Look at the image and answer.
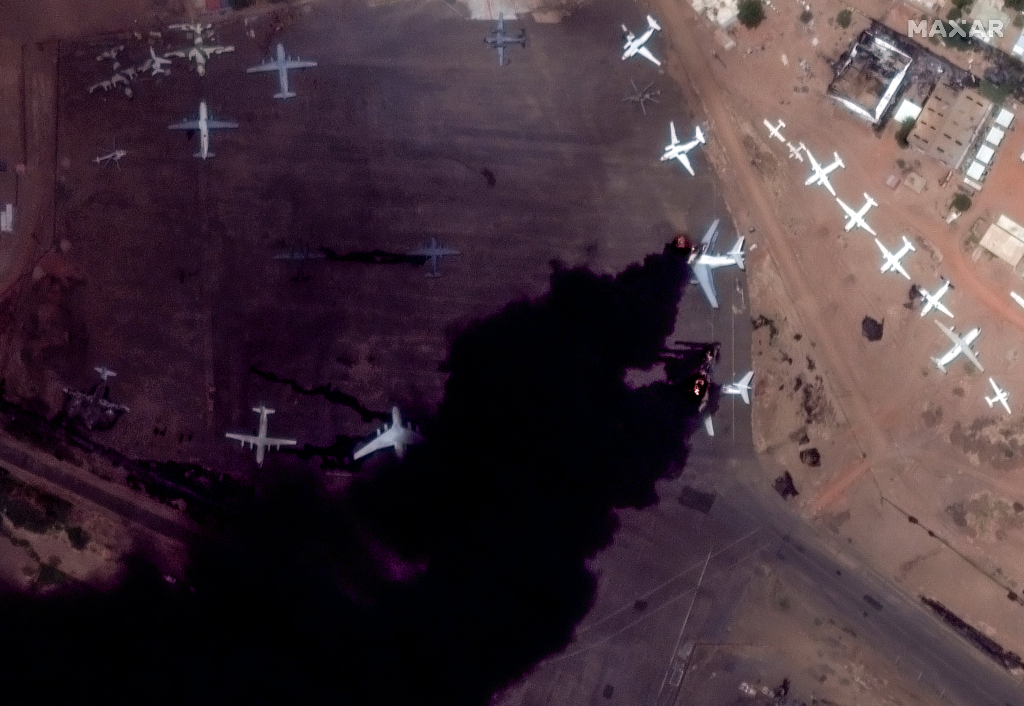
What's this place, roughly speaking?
airport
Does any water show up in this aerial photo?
No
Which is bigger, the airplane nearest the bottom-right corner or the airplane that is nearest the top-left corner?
the airplane that is nearest the top-left corner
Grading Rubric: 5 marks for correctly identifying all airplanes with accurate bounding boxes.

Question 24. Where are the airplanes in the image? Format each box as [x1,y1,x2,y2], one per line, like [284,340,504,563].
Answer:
[806,150,846,196]
[165,18,234,76]
[247,44,317,99]
[985,378,1011,414]
[485,13,525,67]
[661,122,706,176]
[919,275,954,319]
[273,239,326,281]
[355,407,444,491]
[169,101,239,159]
[90,45,153,98]
[622,14,661,65]
[787,142,806,162]
[153,53,172,75]
[930,320,985,373]
[408,237,461,276]
[687,220,747,307]
[836,193,878,236]
[764,120,785,141]
[875,236,916,280]
[226,403,296,466]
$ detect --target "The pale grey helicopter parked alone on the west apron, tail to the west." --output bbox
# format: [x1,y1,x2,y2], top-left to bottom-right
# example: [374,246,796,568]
[92,137,129,171]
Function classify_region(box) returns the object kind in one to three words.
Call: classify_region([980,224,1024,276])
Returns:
building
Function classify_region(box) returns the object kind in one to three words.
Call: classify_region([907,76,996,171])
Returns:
shed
